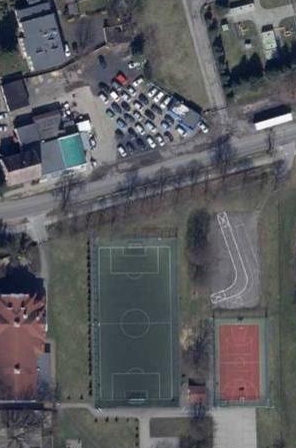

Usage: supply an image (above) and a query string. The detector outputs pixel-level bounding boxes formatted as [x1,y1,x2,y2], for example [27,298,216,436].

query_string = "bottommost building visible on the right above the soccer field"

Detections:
[166,96,202,129]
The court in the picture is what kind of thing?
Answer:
basketball court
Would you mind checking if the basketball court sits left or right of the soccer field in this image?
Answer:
to its right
